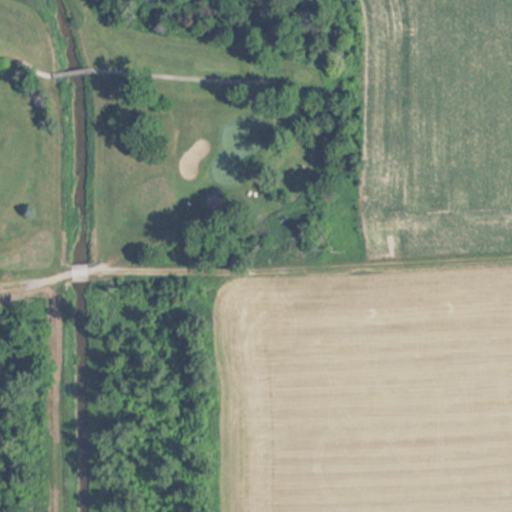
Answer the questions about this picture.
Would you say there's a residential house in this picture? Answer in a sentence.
No, no residential house is visible in the scene.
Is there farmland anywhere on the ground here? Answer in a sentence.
Yes, farmland shows up in the scene.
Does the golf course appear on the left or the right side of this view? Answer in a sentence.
You can find the golf course on the left side of the picture.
